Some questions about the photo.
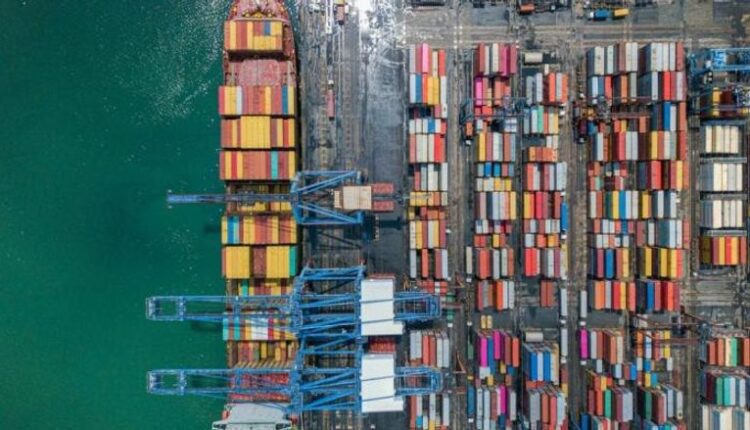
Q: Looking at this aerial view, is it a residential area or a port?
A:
port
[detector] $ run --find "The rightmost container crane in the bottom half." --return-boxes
[691,308,750,344]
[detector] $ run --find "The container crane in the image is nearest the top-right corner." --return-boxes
[686,44,750,86]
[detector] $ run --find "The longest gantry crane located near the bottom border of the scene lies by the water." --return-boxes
[149,319,440,419]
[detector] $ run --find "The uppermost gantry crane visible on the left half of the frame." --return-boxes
[168,170,406,231]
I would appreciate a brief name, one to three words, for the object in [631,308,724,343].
container crane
